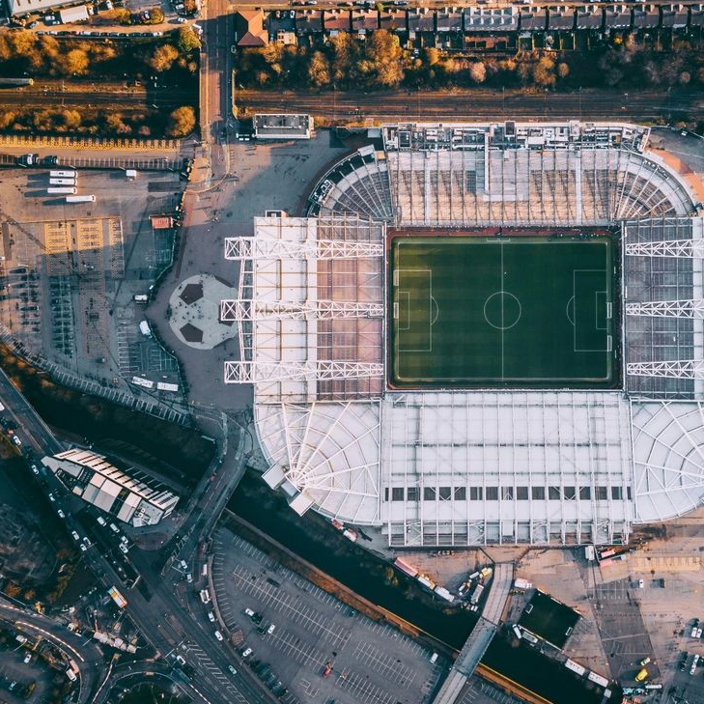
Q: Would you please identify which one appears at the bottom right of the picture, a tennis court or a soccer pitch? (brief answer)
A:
soccer pitch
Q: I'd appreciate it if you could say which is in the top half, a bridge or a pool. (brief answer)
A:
bridge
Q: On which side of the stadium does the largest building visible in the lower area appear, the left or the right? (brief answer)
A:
to its left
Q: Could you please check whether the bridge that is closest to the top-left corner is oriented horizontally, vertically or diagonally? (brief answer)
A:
vertically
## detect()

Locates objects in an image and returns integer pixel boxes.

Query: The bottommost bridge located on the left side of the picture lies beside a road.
[180,448,257,544]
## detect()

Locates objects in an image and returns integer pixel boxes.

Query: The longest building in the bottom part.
[41,447,182,528]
